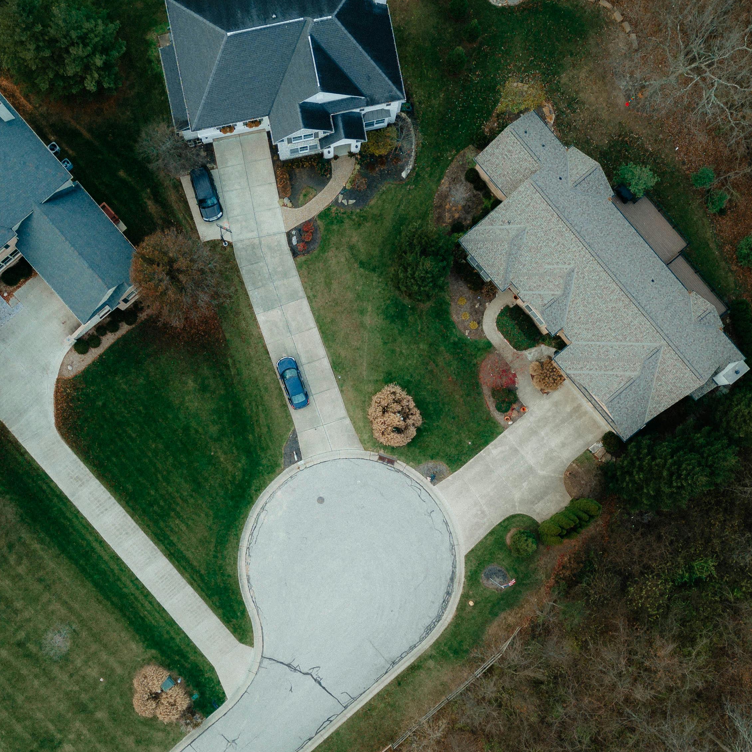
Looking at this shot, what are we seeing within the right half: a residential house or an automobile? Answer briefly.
residential house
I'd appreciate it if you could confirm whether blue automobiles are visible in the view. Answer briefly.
Yes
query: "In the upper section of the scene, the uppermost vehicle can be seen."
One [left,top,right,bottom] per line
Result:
[188,165,222,223]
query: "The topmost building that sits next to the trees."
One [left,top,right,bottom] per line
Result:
[159,0,406,158]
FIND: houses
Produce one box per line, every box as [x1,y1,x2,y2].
[159,0,406,158]
[0,91,152,346]
[459,110,750,444]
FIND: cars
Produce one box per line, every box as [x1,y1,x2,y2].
[188,165,222,223]
[278,356,310,411]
